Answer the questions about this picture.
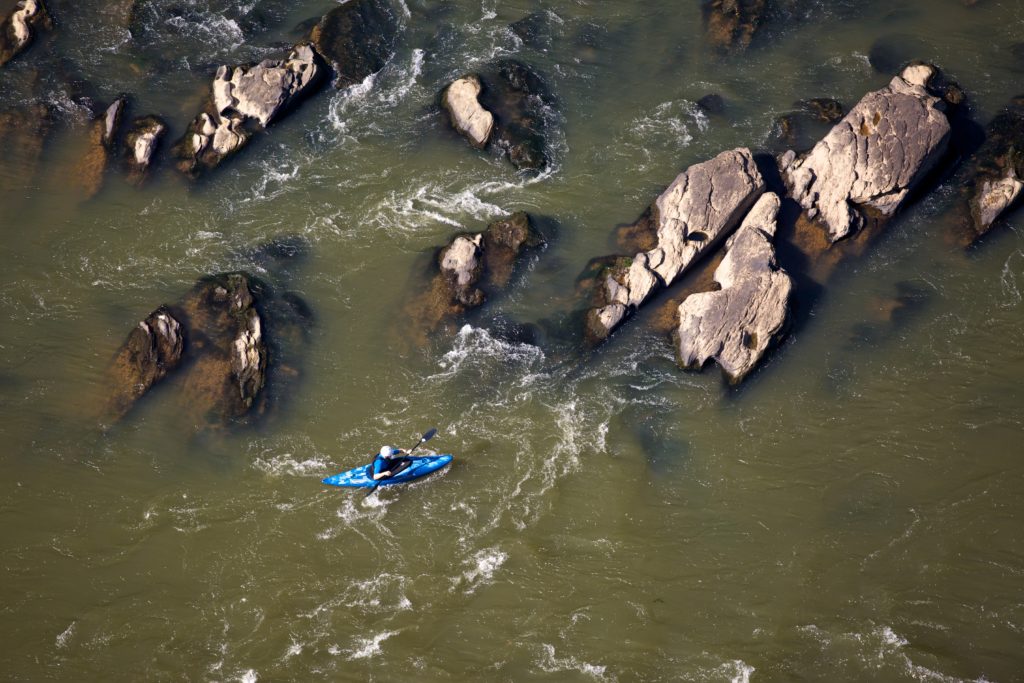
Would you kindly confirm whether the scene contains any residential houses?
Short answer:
No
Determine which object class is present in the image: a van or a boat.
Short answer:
boat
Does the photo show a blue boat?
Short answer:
Yes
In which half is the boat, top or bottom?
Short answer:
bottom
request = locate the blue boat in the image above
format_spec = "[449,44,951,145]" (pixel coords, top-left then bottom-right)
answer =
[322,456,452,487]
